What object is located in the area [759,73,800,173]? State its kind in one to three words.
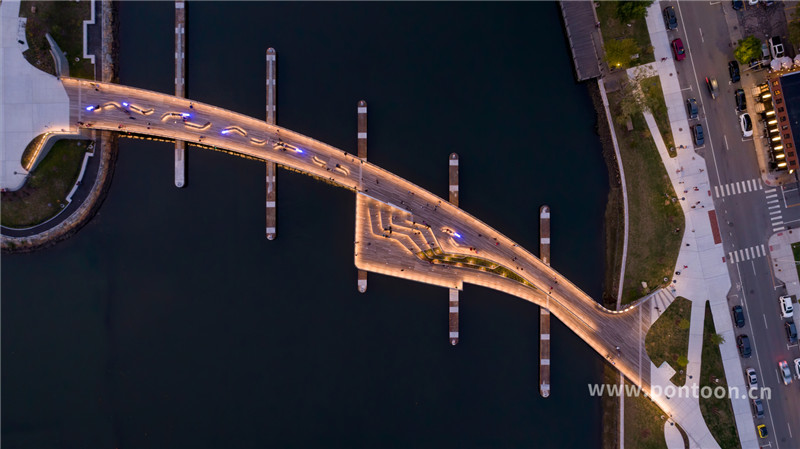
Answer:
building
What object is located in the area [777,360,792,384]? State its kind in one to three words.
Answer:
car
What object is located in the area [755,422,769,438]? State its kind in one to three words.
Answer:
vehicle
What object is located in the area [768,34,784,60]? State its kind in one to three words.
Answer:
car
